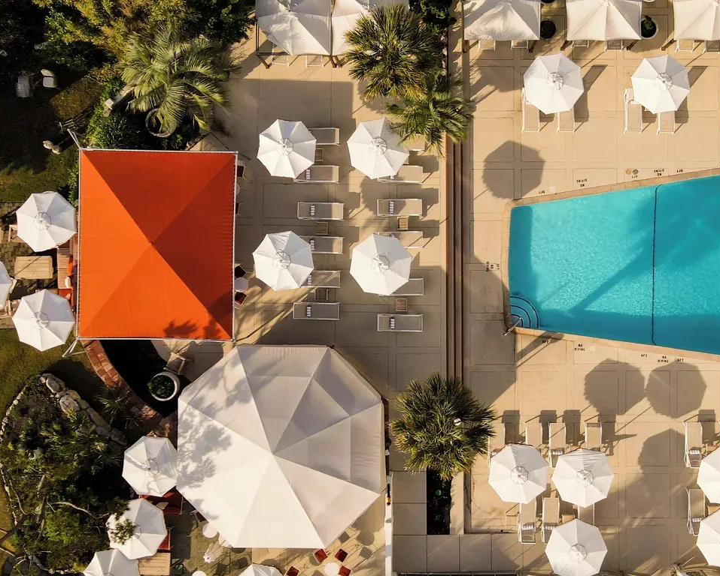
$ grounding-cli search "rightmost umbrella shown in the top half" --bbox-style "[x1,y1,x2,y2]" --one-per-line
[632,55,689,113]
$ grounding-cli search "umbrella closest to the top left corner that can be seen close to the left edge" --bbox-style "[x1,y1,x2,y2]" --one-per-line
[19,189,81,251]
